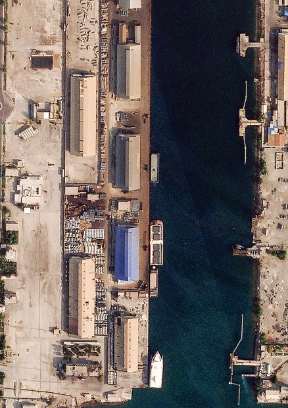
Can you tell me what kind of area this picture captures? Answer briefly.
port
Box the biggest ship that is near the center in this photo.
[150,219,163,266]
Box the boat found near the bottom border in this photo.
[150,351,162,389]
